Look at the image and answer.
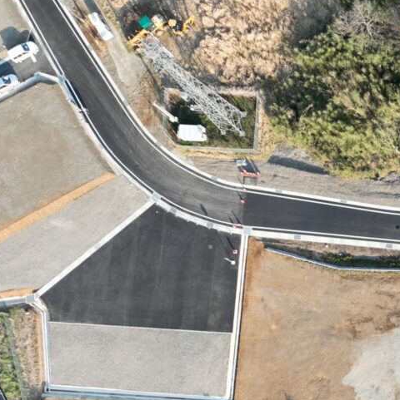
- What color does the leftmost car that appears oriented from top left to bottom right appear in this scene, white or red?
white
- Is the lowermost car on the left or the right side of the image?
left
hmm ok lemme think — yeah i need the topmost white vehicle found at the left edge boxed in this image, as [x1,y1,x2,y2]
[7,45,45,66]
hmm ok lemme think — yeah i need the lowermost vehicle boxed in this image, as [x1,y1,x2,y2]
[0,74,23,94]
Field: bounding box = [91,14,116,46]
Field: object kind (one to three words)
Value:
car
